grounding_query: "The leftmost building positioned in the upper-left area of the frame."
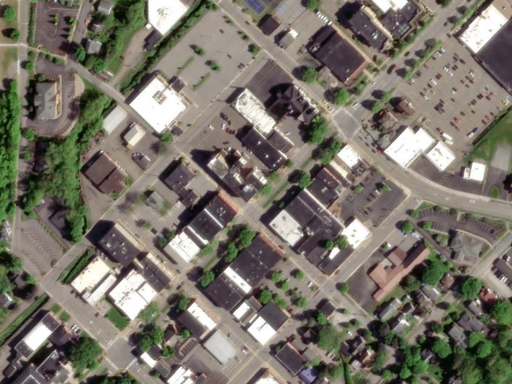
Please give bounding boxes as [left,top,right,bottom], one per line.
[35,82,60,119]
